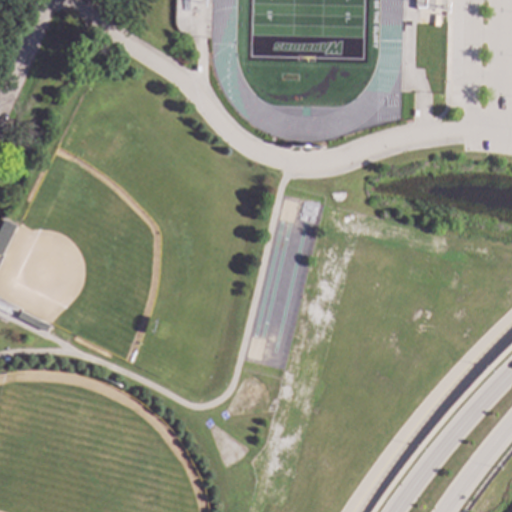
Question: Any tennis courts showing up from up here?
No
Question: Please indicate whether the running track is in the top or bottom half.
top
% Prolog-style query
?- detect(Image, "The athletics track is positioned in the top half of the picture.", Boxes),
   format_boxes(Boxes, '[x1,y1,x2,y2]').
[211,0,402,142]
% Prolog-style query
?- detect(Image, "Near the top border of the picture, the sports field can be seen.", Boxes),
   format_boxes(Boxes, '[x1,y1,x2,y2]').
[237,0,380,106]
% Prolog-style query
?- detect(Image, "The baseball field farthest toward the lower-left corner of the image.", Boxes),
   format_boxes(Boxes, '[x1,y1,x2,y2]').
[0,369,205,512]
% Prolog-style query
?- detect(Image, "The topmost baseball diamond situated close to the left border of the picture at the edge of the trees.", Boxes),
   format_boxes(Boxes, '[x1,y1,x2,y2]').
[0,148,162,362]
